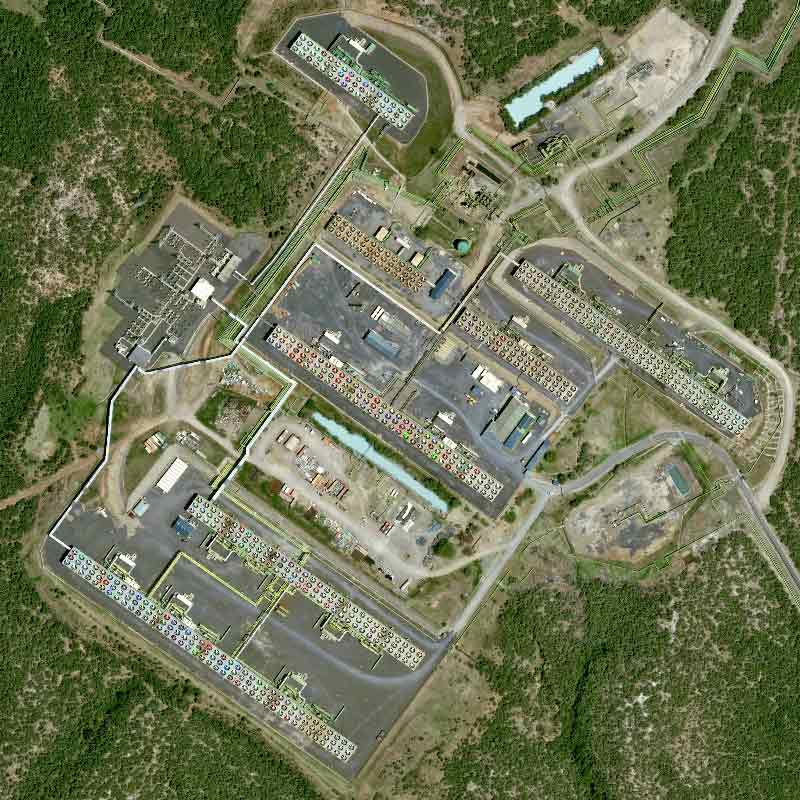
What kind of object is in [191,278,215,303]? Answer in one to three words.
building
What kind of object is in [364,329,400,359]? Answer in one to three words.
building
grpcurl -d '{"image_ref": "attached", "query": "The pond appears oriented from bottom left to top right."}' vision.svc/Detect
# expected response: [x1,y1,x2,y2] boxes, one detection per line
[504,44,602,130]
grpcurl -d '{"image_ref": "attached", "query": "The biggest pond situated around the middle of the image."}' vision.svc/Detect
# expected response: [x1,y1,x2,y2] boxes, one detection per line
[311,409,449,515]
